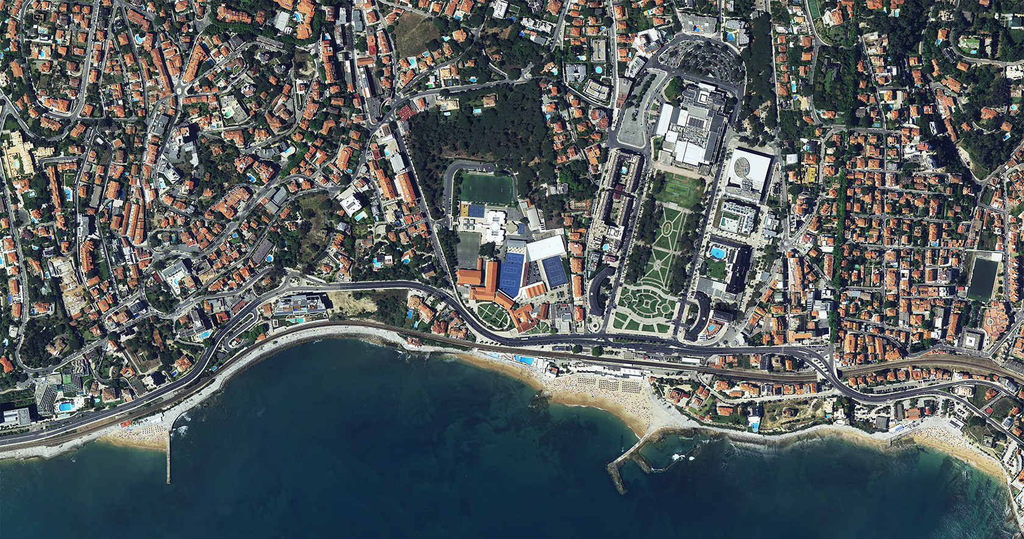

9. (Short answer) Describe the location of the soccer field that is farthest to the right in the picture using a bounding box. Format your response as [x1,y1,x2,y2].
[967,256,1000,303]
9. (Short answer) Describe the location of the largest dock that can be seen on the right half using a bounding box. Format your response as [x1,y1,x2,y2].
[607,431,650,493]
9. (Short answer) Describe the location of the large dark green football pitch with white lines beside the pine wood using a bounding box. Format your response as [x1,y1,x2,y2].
[460,174,514,204]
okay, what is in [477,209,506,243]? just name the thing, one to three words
building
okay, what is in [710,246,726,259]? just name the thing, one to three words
swimming pool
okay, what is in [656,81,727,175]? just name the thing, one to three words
building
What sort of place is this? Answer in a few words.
residential area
